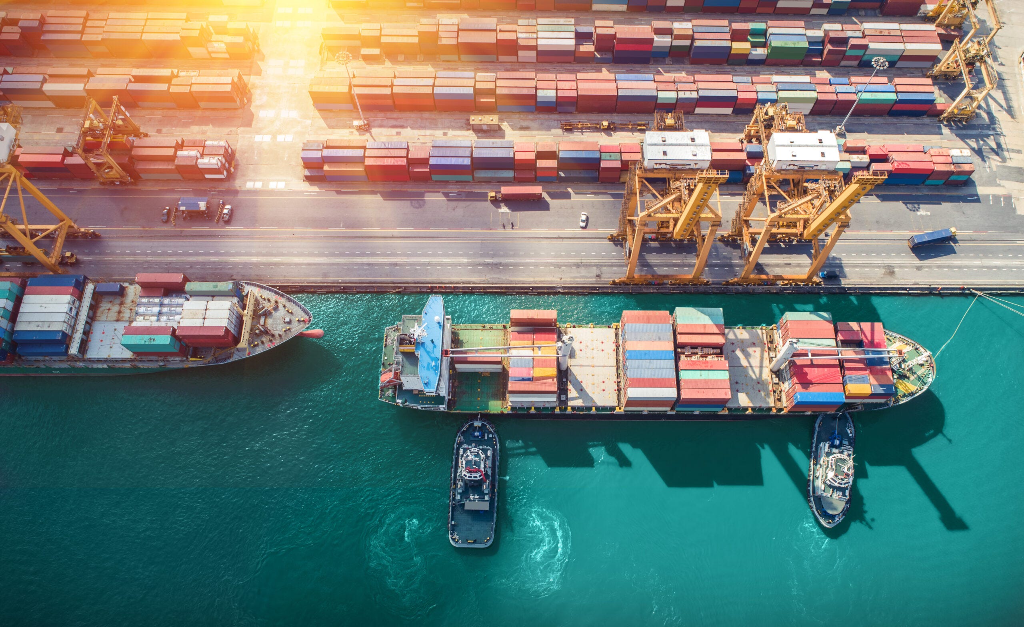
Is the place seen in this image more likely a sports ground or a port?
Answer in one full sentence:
What you see here is a port.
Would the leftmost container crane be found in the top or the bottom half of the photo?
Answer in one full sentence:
It is in the top half that the leftmost container crane appears.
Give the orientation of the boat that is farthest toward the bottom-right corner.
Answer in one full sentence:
The boat that is farthest toward the bottom-right corner is oriented vertically.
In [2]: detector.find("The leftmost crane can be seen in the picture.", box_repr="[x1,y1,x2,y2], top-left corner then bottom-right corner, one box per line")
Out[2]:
[0,93,103,278]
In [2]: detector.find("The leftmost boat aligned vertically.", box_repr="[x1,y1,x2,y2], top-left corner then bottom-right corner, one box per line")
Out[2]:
[453,420,499,548]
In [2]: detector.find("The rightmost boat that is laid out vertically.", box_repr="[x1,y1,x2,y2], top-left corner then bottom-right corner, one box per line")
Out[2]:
[807,415,861,531]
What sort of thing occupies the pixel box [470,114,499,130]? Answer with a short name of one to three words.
shed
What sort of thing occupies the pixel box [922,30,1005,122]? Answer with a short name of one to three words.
container crane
